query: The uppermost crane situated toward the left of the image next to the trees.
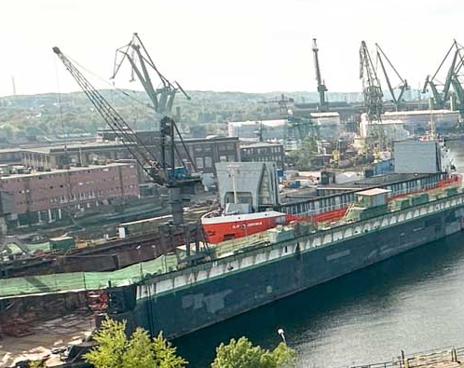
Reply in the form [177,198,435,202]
[112,31,193,126]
